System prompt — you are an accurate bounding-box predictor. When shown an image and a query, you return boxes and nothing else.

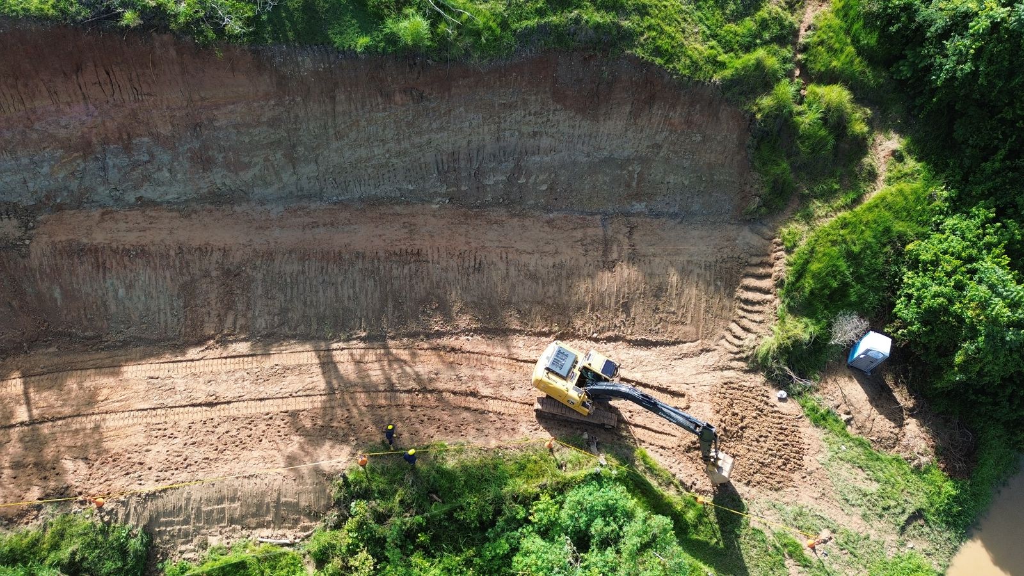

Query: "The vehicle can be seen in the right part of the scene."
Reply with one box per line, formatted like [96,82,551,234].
[531,343,734,487]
